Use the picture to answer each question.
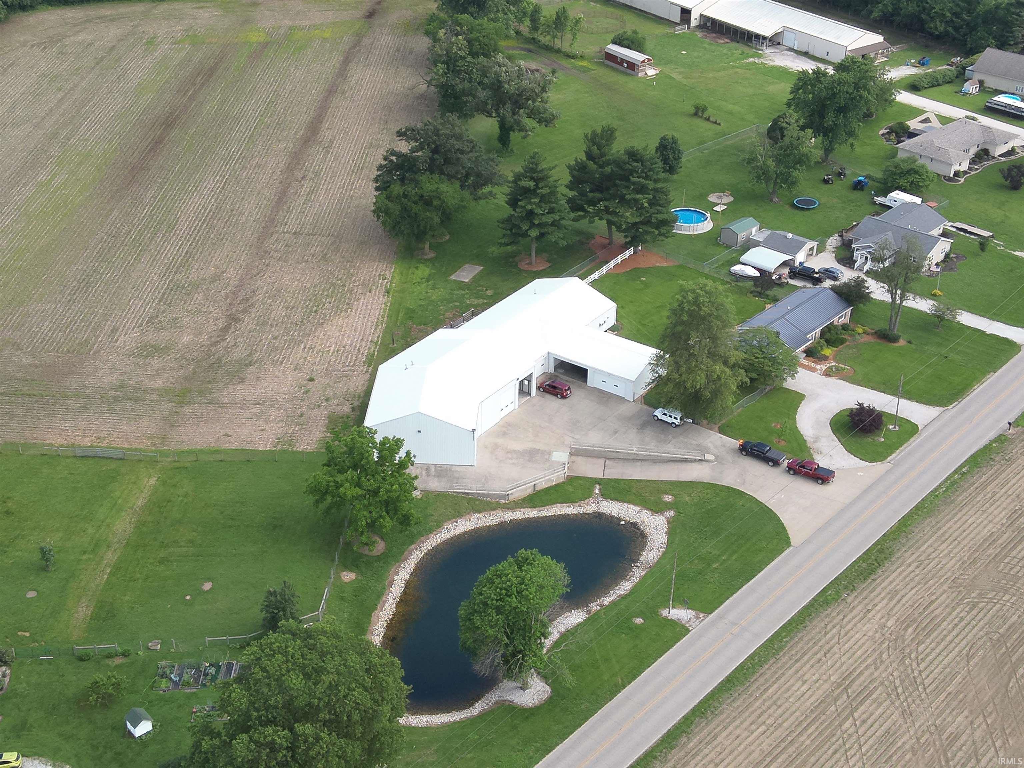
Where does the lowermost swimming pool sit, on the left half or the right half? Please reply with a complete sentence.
It is on the right.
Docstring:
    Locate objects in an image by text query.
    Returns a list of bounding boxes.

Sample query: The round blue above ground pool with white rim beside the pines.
[668,209,714,235]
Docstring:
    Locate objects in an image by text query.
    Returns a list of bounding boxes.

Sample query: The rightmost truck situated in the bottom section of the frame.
[783,458,838,485]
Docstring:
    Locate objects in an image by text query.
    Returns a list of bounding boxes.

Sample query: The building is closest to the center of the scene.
[362,275,669,466]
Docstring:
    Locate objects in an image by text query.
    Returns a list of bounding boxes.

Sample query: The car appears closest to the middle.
[535,378,574,399]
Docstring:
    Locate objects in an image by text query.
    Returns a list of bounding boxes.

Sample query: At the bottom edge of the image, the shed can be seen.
[125,706,153,736]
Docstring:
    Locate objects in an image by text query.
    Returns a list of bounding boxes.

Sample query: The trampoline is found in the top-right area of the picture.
[793,197,820,212]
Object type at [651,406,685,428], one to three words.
car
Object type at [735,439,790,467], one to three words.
truck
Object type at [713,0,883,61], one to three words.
barn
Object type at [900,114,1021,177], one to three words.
house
